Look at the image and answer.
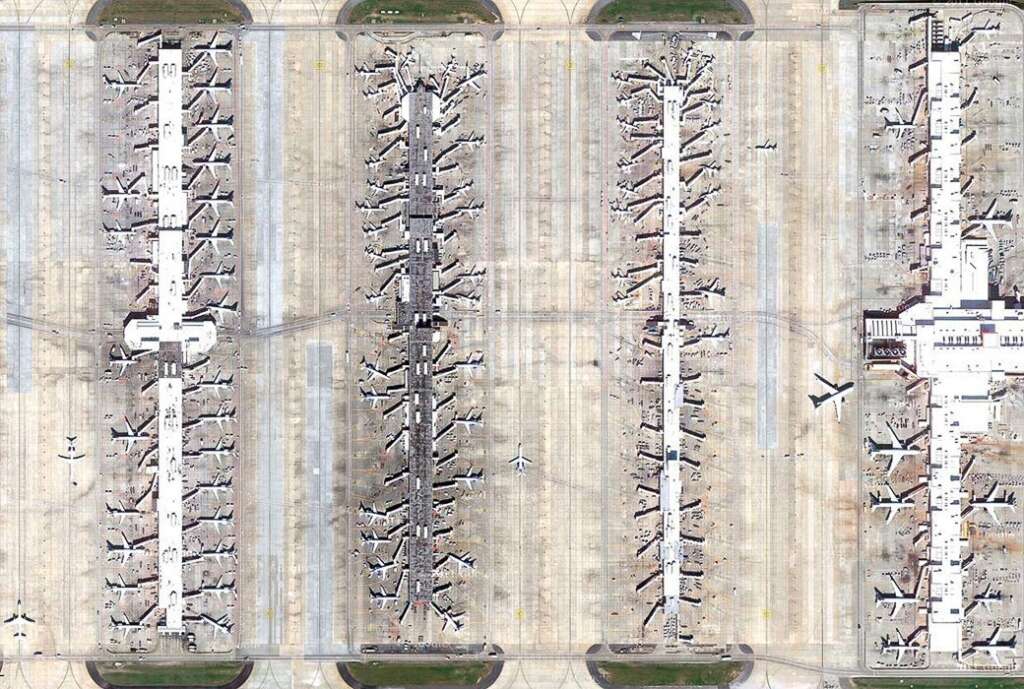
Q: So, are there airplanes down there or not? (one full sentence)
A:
Yes, an airplane can be made out from above.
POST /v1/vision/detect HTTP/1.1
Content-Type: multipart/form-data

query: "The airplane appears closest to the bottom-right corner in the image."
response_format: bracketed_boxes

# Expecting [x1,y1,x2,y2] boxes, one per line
[972,628,1017,667]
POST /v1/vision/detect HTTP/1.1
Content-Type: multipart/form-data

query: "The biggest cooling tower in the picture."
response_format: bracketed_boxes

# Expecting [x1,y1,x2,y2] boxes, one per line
[866,339,908,361]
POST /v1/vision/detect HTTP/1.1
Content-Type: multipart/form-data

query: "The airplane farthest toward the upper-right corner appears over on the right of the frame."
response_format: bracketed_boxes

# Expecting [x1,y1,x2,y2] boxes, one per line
[972,20,1000,41]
